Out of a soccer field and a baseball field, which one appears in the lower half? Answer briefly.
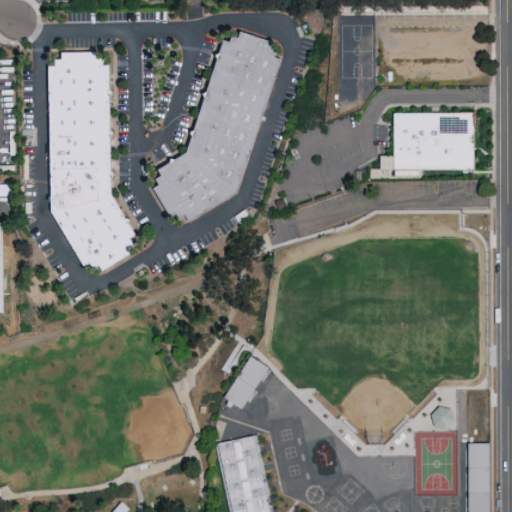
baseball field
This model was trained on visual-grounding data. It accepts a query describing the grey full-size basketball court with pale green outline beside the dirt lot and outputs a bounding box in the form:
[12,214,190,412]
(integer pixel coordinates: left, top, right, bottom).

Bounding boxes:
[340,15,376,103]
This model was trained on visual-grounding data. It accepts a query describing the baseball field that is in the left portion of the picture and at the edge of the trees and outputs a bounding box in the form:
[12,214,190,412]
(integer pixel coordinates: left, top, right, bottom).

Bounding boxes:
[0,319,194,492]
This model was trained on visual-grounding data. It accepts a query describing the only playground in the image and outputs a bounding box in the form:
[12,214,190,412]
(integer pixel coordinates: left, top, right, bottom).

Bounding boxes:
[312,440,337,475]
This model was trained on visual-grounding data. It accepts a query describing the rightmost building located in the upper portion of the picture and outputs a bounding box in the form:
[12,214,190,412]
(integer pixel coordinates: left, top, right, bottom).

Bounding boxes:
[394,112,475,170]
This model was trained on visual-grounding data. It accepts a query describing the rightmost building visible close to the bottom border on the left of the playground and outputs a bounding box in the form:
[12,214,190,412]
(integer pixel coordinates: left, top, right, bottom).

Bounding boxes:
[218,436,272,512]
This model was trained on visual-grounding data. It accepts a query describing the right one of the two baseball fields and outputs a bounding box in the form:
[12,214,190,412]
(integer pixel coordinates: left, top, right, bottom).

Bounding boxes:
[263,213,486,444]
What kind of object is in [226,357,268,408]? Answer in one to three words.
building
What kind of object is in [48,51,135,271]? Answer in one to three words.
building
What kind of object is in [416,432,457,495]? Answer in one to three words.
basketball court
